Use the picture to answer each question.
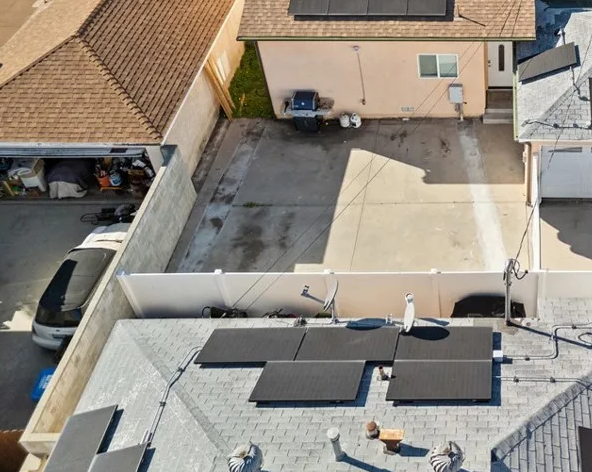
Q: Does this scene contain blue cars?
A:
No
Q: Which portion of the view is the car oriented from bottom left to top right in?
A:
left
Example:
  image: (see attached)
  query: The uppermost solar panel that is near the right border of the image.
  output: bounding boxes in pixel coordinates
[519,41,578,82]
